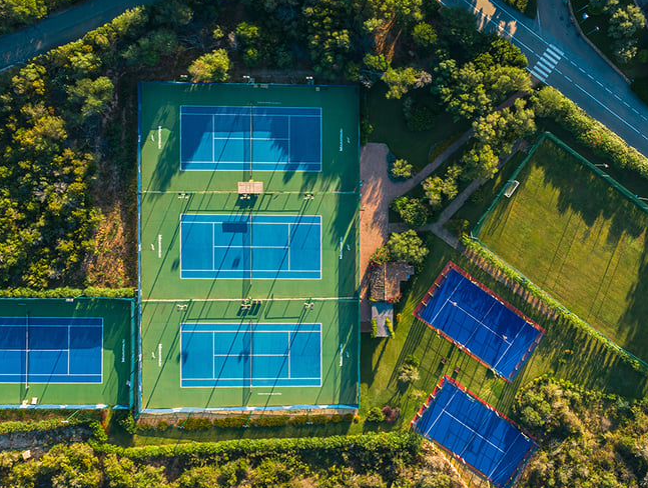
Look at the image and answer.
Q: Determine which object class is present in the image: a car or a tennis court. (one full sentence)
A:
Looking from above, you can make out a tennis court.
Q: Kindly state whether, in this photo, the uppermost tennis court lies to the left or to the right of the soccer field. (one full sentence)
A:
Relative to the soccer field, the uppermost tennis court is on the left.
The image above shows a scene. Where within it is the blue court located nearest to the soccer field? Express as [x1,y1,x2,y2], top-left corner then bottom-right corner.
[412,261,550,386]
